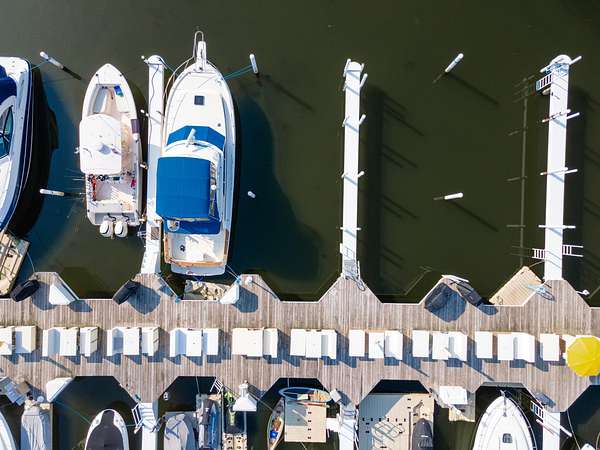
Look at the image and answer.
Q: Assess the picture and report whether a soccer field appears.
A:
No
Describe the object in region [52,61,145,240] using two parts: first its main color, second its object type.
white boat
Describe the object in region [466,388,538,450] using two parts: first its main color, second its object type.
white boat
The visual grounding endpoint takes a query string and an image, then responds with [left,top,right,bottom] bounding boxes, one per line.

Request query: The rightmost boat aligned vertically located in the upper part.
[155,31,238,274]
